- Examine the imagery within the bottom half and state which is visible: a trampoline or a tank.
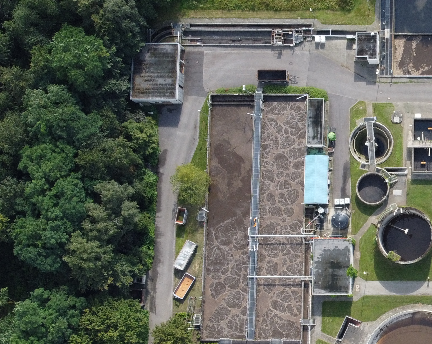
tank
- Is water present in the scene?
Yes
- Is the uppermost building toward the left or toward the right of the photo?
right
